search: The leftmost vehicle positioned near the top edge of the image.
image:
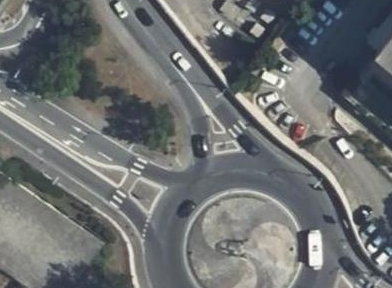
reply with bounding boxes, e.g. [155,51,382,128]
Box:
[112,0,128,19]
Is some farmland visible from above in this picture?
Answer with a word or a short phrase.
No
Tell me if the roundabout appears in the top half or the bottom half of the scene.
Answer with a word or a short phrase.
bottom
